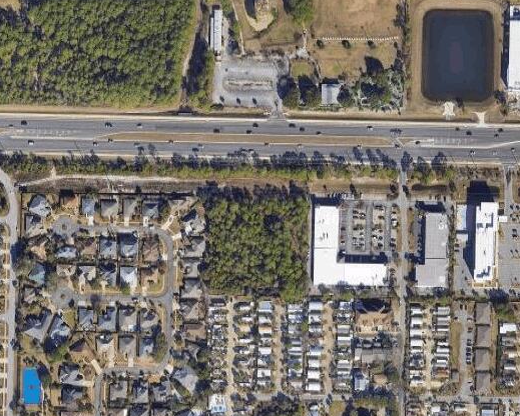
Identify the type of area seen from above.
residential area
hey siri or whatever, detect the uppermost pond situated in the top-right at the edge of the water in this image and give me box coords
[422,10,495,103]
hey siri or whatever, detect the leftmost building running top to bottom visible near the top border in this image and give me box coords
[210,10,223,54]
